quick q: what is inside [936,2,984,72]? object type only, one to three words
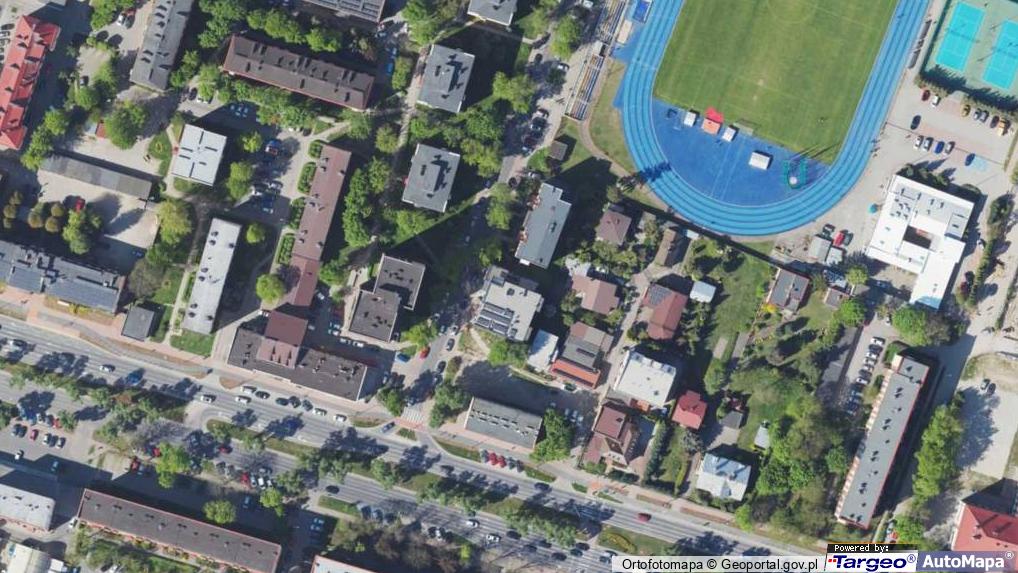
tennis court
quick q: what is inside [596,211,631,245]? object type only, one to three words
house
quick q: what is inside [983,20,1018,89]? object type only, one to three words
tennis court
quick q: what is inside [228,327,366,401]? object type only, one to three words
building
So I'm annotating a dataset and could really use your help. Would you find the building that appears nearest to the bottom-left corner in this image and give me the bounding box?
[5,544,49,573]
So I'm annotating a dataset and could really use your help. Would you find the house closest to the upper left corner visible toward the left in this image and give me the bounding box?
[0,13,52,152]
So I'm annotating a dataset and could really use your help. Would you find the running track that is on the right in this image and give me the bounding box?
[623,0,925,237]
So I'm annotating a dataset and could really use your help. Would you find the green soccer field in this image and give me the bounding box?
[653,0,894,163]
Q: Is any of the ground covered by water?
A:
No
